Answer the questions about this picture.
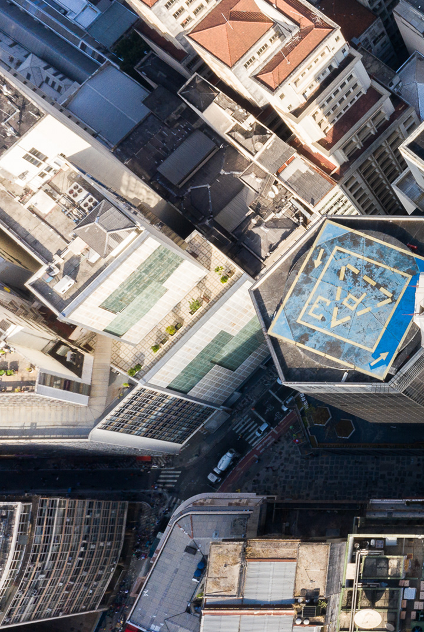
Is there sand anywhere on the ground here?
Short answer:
No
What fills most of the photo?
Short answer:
buildings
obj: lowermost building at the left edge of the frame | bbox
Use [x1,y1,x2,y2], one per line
[0,497,127,632]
